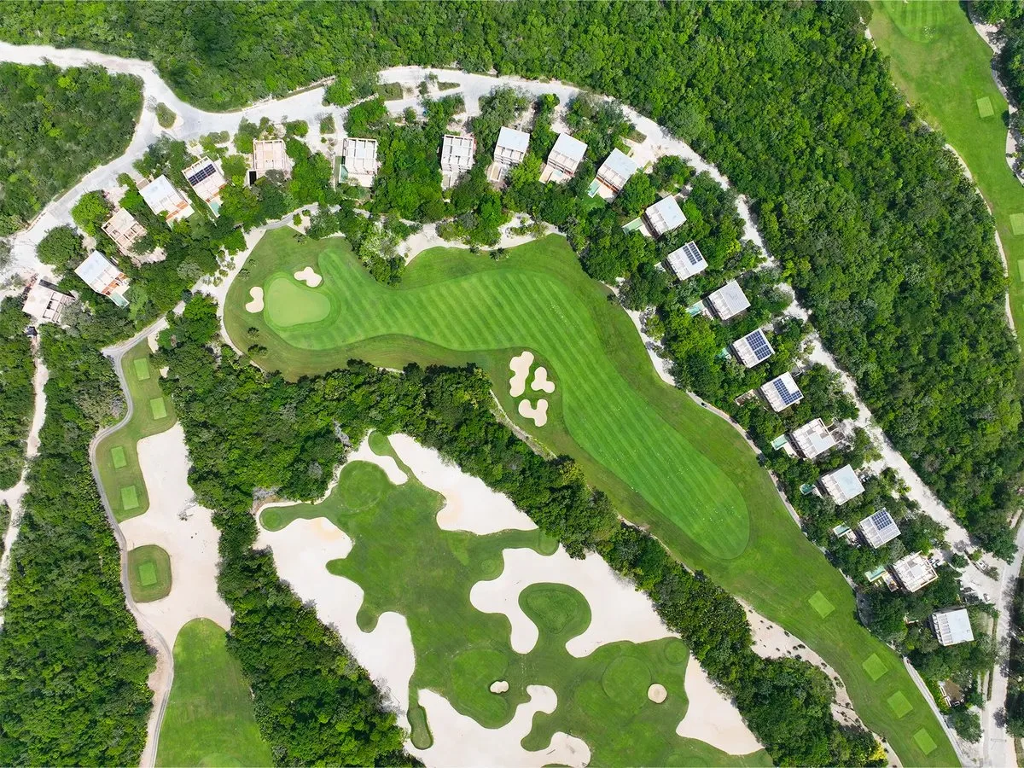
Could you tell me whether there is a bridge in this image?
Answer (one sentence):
No, the photo shows no bridge.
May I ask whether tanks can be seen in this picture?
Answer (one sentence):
No, the photo shows no tank.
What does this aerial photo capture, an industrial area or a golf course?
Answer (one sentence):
This image shows a golf course.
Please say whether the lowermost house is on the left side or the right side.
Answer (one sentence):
The lowermost house appears in the right half of the scene.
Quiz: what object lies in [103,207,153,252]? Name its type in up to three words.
house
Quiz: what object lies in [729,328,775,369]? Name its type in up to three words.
house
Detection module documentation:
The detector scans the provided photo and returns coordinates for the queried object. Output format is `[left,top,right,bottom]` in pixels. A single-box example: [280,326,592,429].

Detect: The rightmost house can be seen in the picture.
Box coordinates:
[929,604,974,645]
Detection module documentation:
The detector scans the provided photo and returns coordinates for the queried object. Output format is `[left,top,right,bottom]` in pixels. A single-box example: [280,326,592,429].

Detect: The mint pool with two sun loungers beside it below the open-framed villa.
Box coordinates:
[865,564,887,582]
